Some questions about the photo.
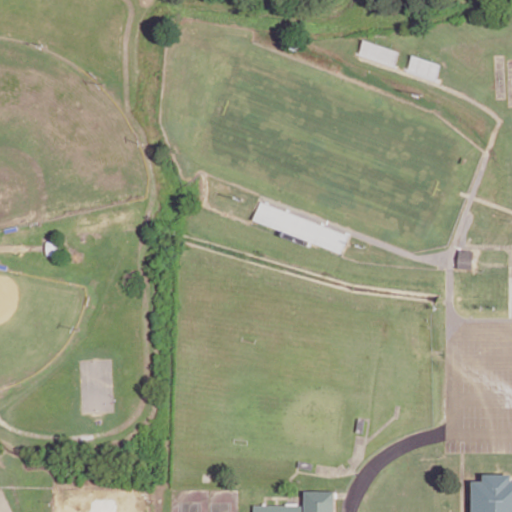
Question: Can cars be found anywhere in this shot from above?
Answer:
No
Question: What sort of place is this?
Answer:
sports ground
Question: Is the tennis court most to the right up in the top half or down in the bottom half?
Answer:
bottom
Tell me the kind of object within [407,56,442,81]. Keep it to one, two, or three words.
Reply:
shed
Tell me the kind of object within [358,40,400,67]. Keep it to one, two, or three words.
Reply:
shed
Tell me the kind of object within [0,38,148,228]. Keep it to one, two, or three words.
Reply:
baseball field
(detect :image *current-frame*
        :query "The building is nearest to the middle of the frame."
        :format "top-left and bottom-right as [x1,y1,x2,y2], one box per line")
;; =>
[252,202,350,254]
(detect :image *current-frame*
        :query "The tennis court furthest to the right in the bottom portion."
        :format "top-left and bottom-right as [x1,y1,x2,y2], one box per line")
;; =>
[209,490,238,512]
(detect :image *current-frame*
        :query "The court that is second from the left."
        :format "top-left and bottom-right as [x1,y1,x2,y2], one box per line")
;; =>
[172,490,208,512]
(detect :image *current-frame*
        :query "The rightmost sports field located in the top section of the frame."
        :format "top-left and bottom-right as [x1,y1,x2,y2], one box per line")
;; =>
[165,25,480,250]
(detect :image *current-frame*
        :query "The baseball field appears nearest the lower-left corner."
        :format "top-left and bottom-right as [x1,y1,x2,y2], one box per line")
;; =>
[0,271,86,390]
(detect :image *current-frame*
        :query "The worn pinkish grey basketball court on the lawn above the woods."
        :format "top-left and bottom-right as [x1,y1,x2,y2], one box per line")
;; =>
[80,359,114,416]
